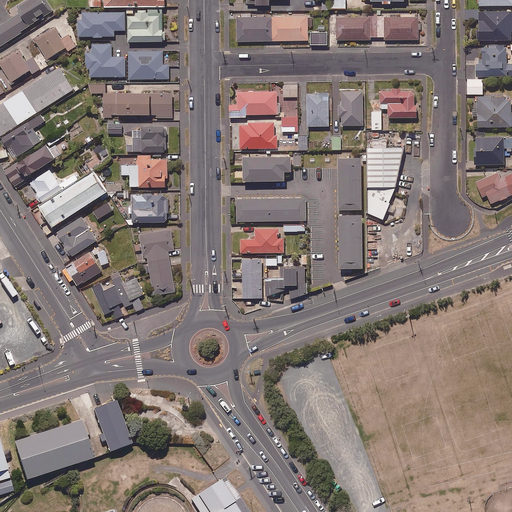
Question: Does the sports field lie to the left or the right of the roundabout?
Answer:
right of it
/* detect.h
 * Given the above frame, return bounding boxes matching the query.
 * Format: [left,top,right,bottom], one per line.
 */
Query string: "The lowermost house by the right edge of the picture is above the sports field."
[477,170,512,208]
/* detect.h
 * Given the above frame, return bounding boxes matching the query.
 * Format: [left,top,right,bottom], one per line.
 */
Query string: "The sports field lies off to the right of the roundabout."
[332,288,512,512]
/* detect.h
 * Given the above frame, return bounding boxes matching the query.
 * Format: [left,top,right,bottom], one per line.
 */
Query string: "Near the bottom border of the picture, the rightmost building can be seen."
[192,482,260,512]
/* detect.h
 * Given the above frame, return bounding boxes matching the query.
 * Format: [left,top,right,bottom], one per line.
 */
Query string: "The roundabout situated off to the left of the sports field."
[190,328,229,367]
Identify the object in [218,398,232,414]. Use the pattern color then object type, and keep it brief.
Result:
white vehicle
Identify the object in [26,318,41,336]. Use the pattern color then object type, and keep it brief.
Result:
white vehicle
